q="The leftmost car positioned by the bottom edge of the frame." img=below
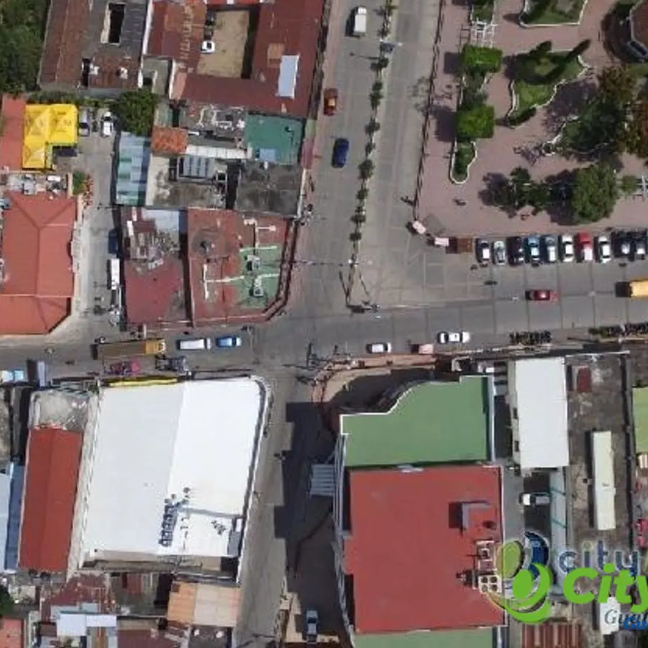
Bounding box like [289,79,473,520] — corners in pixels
[305,608,318,634]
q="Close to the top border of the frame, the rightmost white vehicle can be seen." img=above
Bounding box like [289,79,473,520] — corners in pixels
[352,8,367,40]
